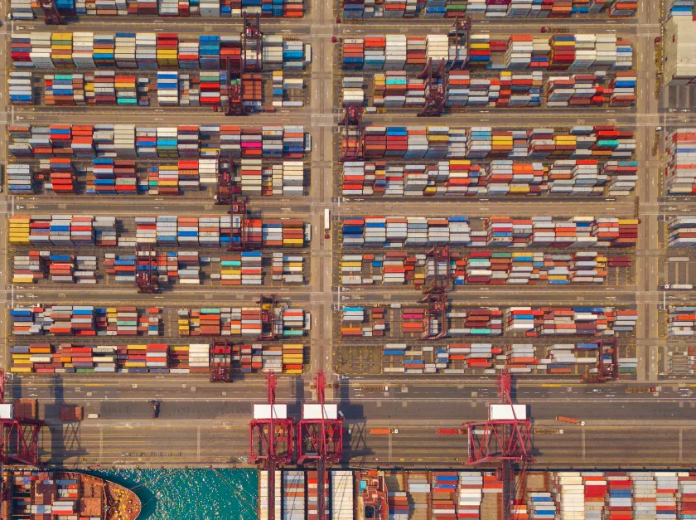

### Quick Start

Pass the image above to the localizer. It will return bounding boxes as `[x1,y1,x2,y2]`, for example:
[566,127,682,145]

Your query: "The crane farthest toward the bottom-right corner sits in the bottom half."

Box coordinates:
[582,338,618,383]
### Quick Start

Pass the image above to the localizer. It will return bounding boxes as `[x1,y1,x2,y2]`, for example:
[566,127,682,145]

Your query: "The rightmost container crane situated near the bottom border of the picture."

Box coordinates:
[455,370,535,520]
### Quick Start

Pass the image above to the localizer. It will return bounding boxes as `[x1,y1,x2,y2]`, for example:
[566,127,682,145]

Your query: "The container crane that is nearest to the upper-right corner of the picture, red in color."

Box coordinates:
[442,9,471,71]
